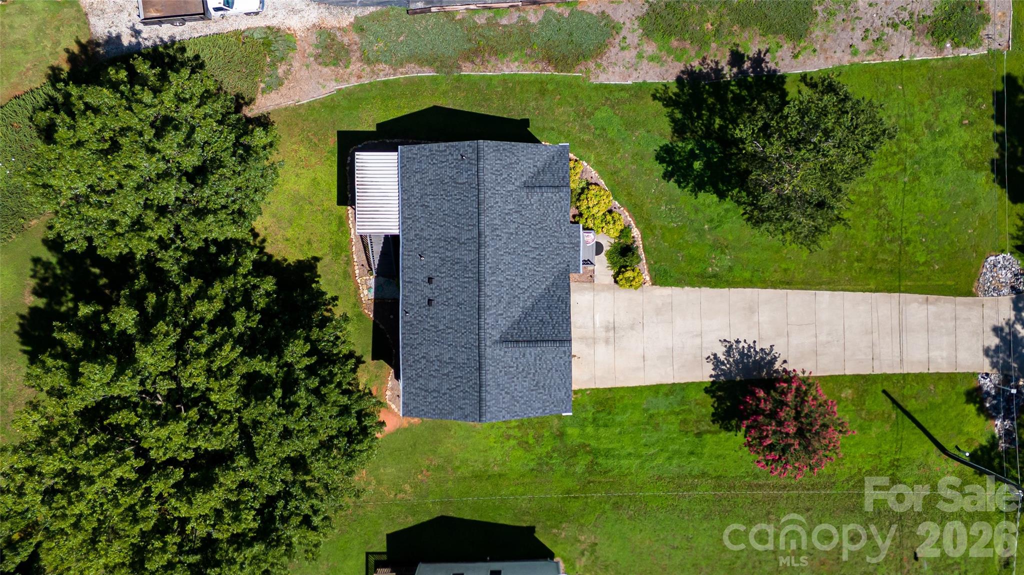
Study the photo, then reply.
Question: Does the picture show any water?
No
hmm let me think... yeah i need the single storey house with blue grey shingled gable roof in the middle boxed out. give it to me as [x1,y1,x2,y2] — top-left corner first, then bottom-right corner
[396,140,583,423]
